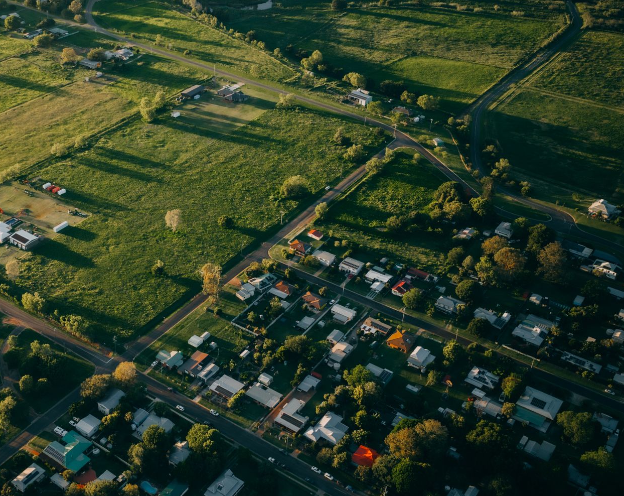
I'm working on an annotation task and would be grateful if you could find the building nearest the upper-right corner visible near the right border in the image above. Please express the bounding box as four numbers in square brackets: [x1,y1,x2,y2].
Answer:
[589,199,617,219]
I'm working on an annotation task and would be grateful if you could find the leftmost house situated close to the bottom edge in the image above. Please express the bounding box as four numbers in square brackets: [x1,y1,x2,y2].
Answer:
[10,464,46,496]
